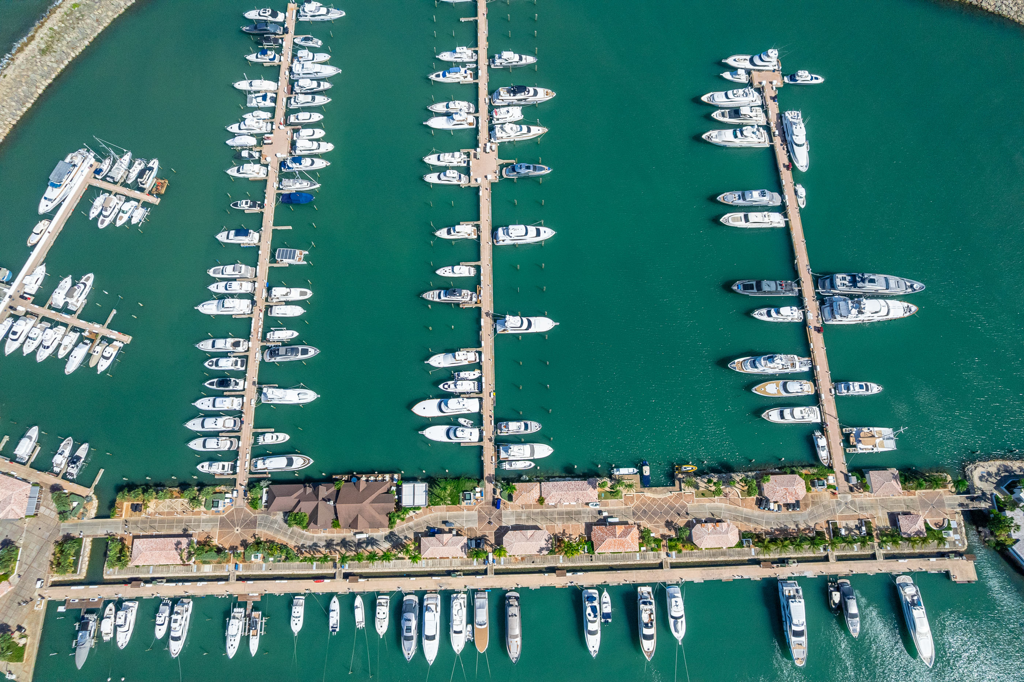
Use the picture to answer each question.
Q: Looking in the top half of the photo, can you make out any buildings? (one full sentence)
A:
No, there is no building in the top half of the photo.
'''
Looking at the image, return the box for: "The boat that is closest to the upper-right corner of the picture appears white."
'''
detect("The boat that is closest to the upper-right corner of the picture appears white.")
[784,73,824,85]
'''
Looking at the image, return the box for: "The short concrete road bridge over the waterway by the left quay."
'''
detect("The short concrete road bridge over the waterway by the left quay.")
[59,519,112,535]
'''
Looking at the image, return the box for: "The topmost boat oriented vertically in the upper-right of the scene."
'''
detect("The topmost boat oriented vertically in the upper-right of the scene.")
[787,109,810,172]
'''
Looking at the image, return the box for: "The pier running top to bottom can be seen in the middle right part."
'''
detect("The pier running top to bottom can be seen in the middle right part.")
[750,69,847,469]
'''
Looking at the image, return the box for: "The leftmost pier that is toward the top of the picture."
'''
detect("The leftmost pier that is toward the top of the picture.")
[0,157,161,354]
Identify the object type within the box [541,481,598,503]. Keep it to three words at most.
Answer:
building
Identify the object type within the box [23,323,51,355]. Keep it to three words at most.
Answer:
boat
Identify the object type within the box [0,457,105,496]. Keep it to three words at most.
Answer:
pier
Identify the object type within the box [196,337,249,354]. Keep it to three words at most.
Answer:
boat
